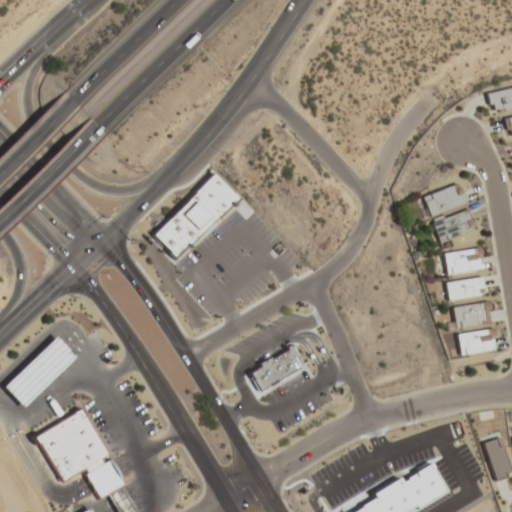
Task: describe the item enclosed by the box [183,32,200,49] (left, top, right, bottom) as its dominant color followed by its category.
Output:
white vehicle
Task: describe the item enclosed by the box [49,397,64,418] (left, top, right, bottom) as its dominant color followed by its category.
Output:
white vehicle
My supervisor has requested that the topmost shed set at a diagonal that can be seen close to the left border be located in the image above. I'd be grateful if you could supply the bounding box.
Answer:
[5,336,78,408]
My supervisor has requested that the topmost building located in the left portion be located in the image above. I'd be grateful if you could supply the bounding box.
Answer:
[154,174,240,261]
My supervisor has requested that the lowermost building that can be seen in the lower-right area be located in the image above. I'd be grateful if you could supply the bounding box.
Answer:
[352,463,454,512]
